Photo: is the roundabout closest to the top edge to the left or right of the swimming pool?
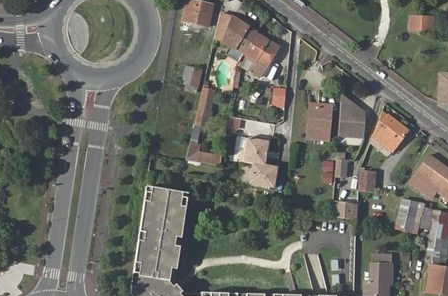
left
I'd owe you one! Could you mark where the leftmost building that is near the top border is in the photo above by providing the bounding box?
[181,0,214,26]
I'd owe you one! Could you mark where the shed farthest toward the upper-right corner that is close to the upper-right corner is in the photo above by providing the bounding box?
[407,14,434,32]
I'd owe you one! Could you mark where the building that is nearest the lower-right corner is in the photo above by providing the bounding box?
[424,264,448,296]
